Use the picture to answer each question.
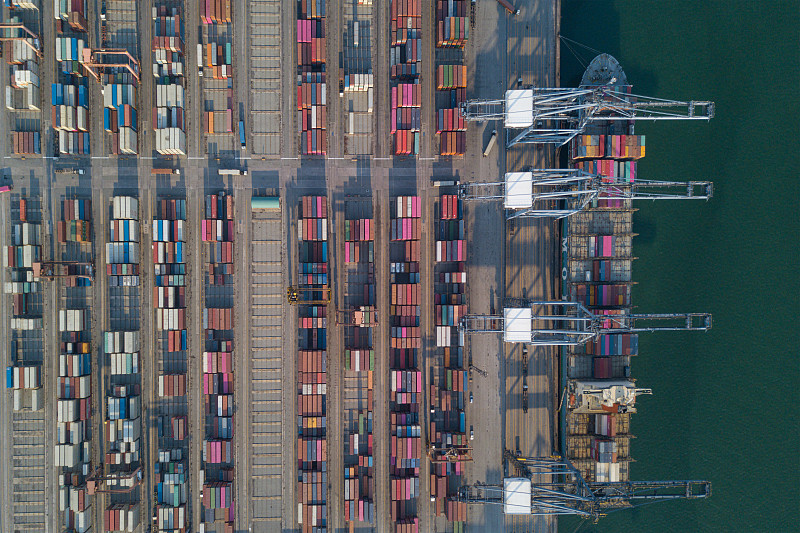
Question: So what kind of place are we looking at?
port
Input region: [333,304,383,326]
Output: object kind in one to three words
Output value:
container crane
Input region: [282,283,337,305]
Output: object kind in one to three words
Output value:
container crane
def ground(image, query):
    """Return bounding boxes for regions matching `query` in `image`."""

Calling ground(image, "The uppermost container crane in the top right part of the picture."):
[460,84,717,162]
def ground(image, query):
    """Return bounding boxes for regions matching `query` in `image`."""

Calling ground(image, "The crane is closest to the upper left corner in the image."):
[0,23,48,57]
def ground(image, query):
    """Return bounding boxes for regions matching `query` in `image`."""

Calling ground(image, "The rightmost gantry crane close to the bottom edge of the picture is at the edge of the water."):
[460,431,715,527]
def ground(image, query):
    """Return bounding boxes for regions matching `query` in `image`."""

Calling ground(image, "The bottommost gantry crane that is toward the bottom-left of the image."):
[81,461,148,493]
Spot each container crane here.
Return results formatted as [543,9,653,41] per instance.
[460,285,716,346]
[428,433,478,463]
[460,431,715,527]
[460,166,716,231]
[81,461,148,493]
[80,49,146,80]
[28,259,99,281]
[333,304,383,326]
[460,84,717,162]
[0,23,48,57]
[282,283,337,305]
